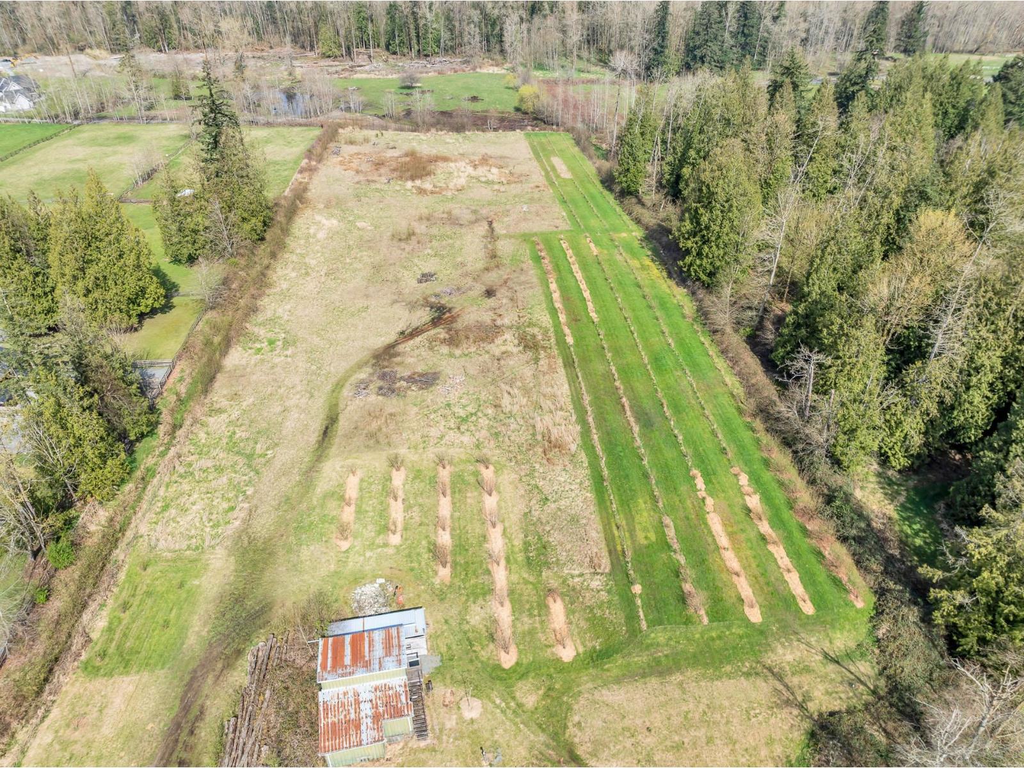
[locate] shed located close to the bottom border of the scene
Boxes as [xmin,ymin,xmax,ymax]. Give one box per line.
[300,604,431,768]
